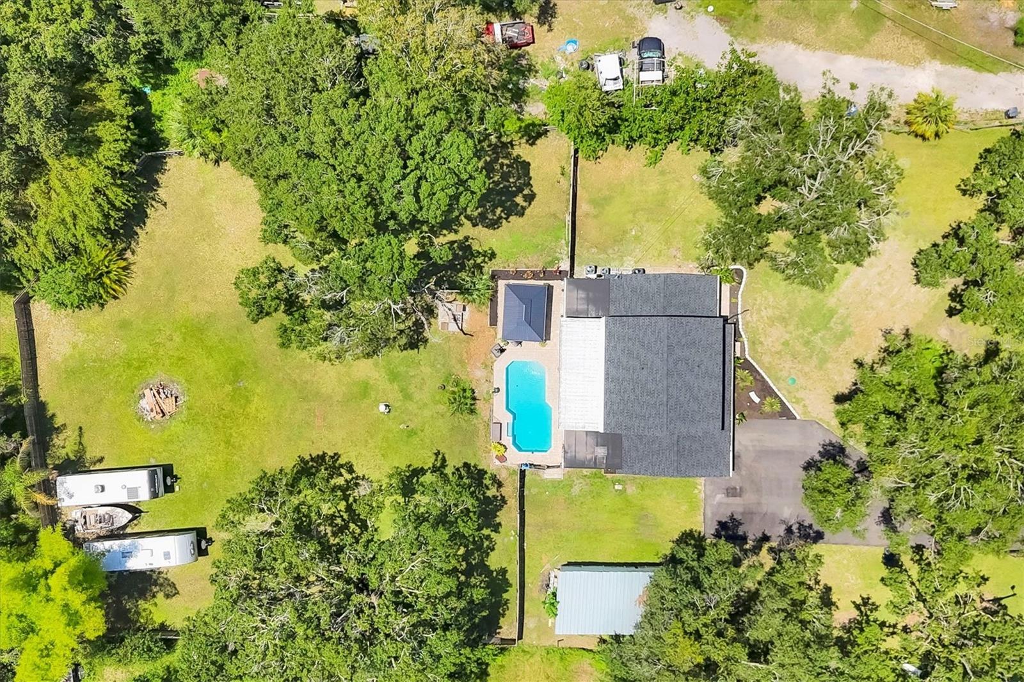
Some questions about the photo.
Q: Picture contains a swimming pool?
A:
Yes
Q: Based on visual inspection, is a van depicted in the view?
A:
Yes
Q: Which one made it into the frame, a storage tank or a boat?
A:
boat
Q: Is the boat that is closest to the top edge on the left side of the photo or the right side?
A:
left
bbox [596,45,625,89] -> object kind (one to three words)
van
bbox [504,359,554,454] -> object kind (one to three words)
swimming pool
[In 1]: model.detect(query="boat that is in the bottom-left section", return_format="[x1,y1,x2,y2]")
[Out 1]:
[64,507,141,535]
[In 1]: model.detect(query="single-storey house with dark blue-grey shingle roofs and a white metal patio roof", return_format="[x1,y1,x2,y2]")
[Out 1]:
[558,272,735,477]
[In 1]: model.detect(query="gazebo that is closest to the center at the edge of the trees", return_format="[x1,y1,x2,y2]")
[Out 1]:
[502,284,549,341]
